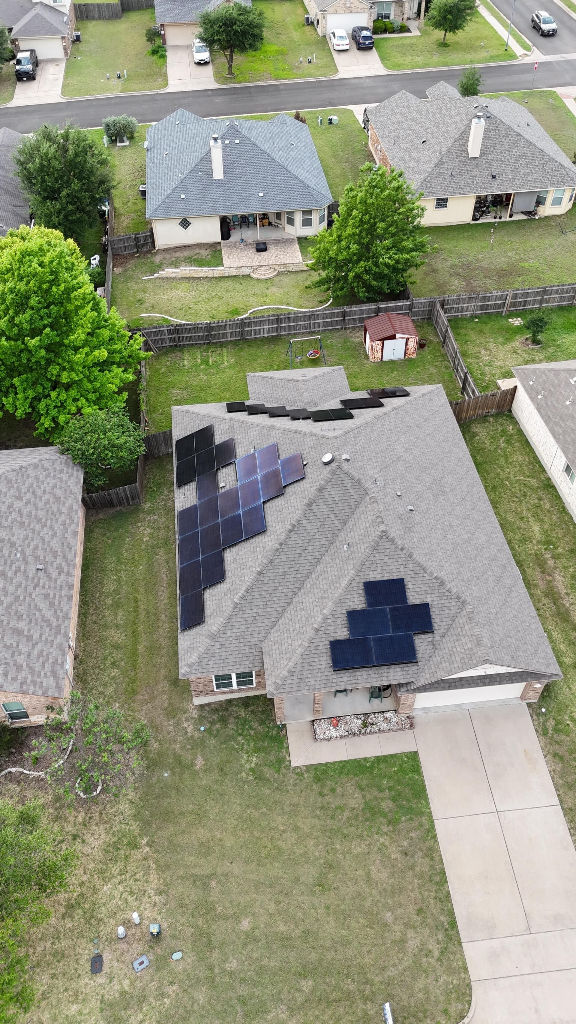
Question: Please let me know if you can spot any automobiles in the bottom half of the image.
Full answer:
No, in the bottom half of the image there is no automobile.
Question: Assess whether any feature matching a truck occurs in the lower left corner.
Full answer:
No, looking in the lower left corner, there is no truck.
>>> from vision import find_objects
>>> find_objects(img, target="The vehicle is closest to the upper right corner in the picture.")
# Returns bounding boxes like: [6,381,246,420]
[530,8,558,32]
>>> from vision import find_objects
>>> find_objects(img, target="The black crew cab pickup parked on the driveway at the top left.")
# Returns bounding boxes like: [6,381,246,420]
[16,52,40,78]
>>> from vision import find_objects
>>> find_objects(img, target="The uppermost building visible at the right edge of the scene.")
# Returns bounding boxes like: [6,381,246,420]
[367,87,576,228]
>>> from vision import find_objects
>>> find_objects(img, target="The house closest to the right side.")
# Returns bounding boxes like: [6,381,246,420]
[511,358,576,502]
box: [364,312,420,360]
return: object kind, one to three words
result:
shed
